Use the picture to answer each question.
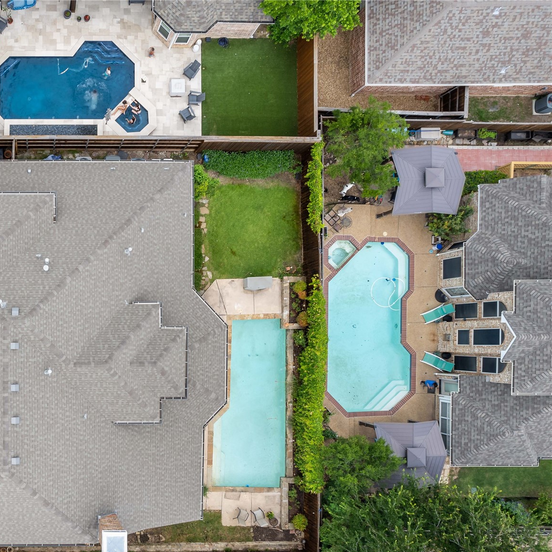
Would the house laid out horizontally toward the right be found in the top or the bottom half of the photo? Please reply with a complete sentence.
The top half of the photo is where the house laid out horizontally toward the right is.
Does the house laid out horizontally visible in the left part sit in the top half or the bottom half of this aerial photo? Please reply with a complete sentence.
Seen from above, the house laid out horizontally visible in the left part lies in the top half of the view.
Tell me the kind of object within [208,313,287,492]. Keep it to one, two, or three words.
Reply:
swimming pool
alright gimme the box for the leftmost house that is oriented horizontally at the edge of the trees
[149,0,272,51]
